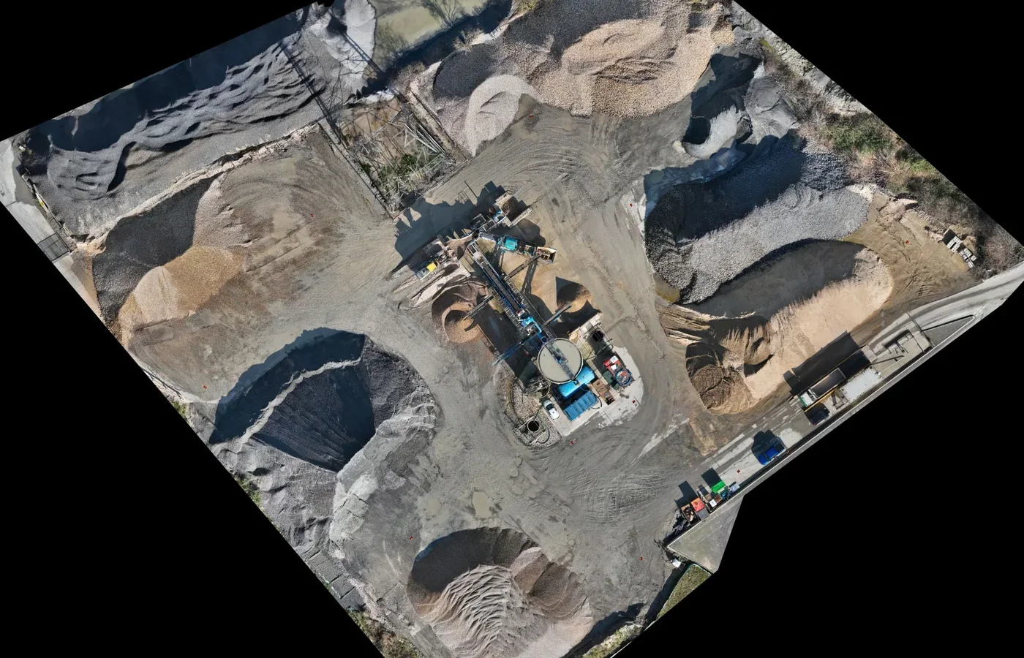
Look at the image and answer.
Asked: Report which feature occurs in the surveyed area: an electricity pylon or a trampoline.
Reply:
electricity pylon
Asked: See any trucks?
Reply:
Yes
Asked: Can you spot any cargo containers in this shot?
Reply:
Yes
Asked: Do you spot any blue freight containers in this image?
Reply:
Yes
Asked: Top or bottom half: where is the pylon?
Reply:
top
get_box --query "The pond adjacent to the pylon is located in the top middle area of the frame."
[371,0,505,80]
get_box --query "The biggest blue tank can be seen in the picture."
[557,368,596,404]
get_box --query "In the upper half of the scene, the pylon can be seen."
[348,93,453,206]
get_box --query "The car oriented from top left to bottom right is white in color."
[542,399,561,421]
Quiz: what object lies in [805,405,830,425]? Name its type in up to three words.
car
